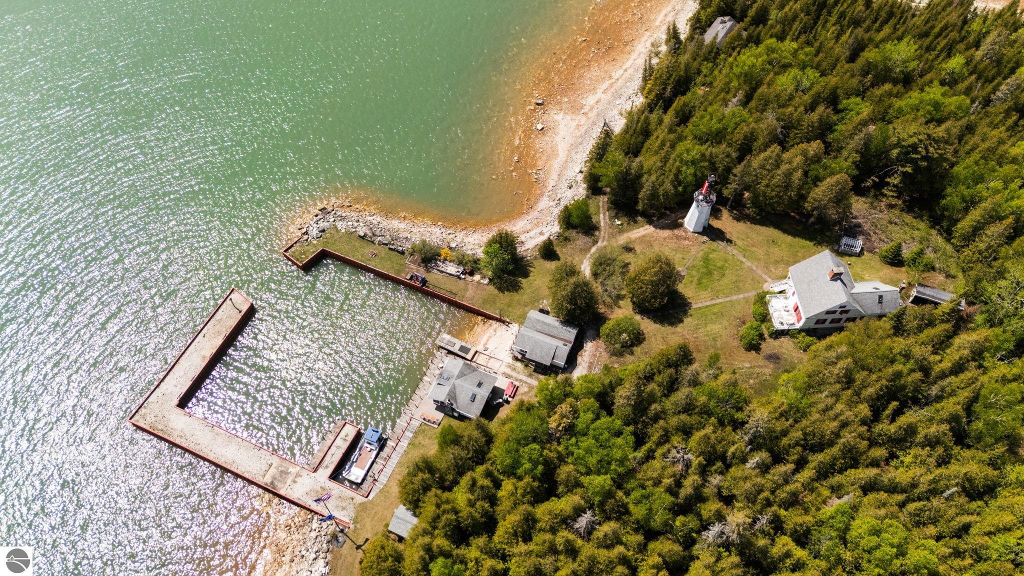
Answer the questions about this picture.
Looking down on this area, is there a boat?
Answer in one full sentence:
Yes, this view includes a boat.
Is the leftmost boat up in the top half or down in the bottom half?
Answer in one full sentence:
You can find the leftmost boat in the bottom half.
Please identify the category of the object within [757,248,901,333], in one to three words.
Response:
house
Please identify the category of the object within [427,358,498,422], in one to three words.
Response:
building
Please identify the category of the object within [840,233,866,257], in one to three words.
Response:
greenhouse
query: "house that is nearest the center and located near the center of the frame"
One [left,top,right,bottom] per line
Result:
[508,310,582,371]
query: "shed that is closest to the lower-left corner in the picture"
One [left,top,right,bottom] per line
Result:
[388,506,424,534]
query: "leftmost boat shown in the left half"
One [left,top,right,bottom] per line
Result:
[343,423,385,487]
